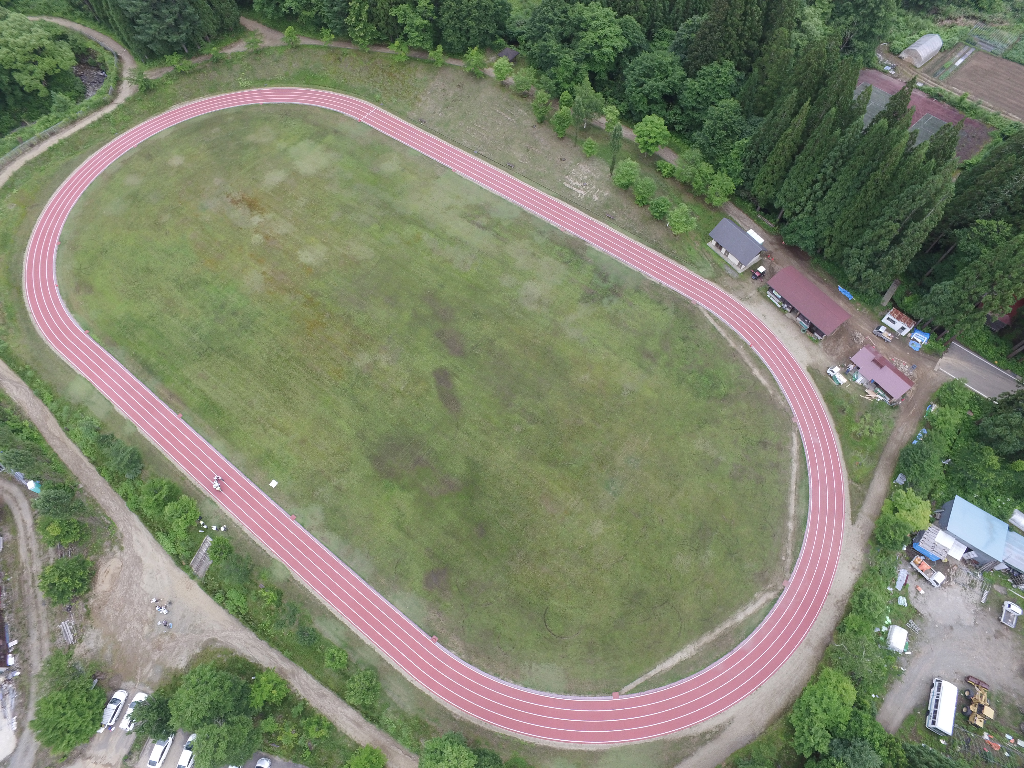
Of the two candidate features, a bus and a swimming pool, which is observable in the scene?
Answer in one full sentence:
This aerial view contains a bus.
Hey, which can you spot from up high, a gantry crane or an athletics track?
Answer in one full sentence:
The image shows an athletics track.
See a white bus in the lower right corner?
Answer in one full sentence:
Yes, a white bus appears in the lower right corner.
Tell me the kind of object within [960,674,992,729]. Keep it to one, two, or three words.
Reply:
work vehicle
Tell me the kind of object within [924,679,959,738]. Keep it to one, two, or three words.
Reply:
bus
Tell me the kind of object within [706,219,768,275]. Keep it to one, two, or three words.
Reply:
house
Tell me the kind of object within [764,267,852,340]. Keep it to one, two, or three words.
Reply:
shed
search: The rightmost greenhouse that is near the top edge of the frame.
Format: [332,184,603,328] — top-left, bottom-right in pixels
[899,26,947,66]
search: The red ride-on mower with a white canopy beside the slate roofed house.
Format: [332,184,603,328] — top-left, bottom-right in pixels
[747,265,766,284]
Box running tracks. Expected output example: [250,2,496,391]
[25,88,845,743]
